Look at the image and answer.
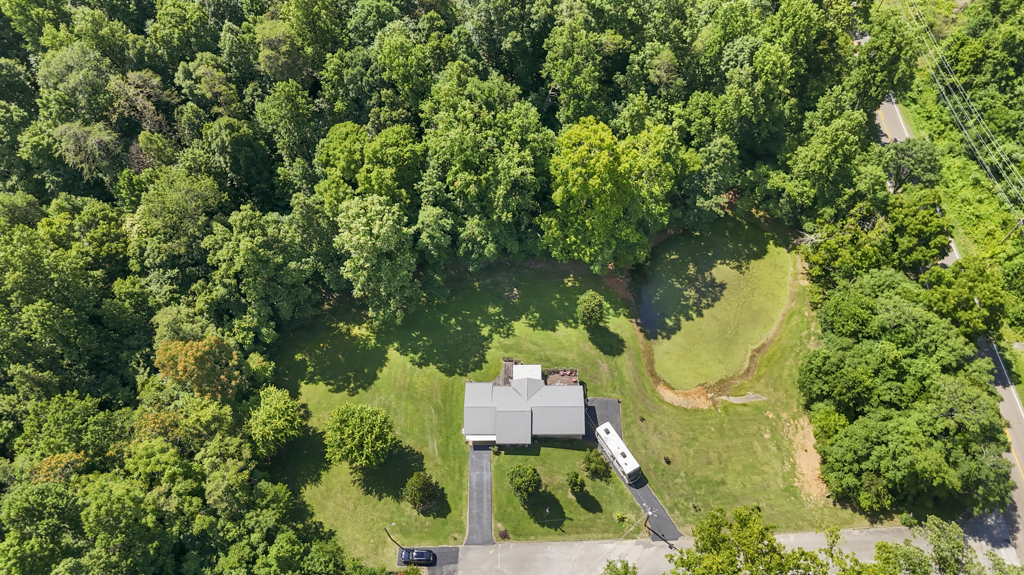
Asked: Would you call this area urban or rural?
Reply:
rural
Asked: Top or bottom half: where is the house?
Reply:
bottom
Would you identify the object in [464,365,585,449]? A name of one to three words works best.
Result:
house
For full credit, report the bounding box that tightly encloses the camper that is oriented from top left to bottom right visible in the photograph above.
[594,423,643,484]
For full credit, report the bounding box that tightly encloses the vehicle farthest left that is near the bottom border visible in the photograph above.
[400,549,434,566]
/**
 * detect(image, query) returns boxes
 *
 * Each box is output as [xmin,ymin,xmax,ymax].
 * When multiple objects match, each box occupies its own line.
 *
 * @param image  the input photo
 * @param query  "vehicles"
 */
[400,549,434,566]
[594,423,643,484]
